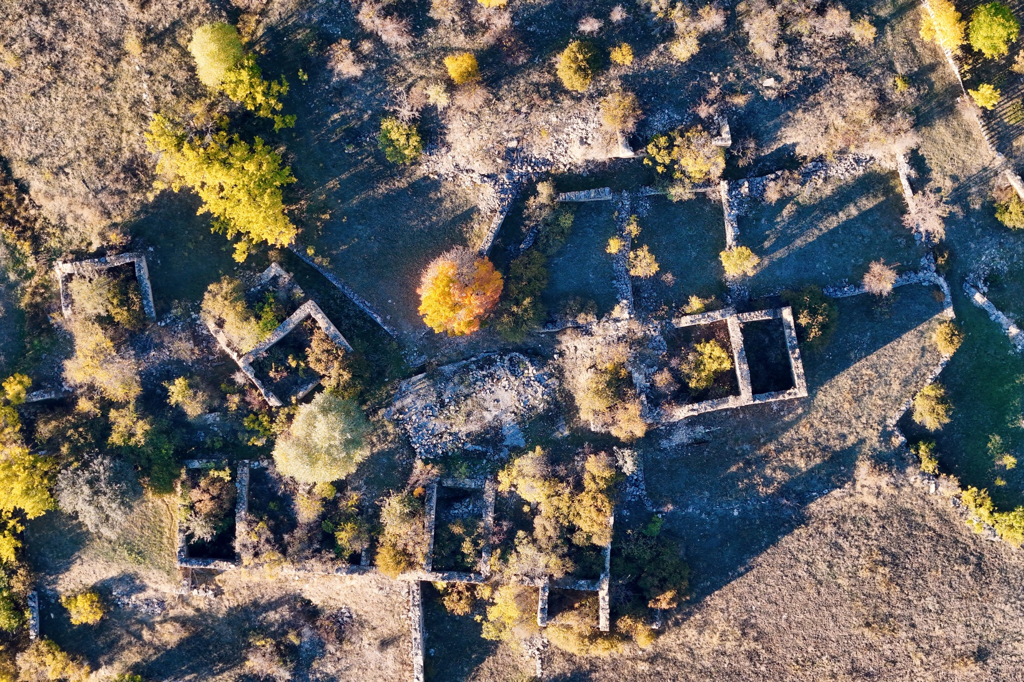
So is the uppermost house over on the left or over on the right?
left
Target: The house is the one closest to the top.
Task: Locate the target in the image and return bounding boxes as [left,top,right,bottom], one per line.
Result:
[58,250,163,317]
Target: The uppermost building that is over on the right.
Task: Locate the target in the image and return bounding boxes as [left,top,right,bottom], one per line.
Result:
[592,305,806,431]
